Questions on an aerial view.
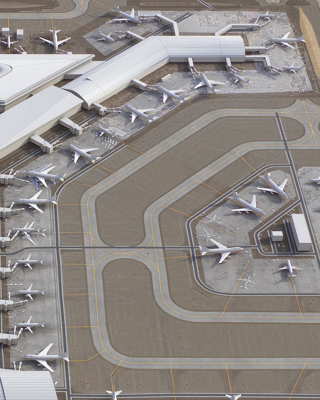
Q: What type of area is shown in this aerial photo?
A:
airport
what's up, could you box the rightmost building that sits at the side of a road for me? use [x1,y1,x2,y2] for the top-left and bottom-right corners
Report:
[291,213,312,251]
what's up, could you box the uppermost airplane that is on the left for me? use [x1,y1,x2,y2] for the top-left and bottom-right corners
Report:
[110,2,141,24]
